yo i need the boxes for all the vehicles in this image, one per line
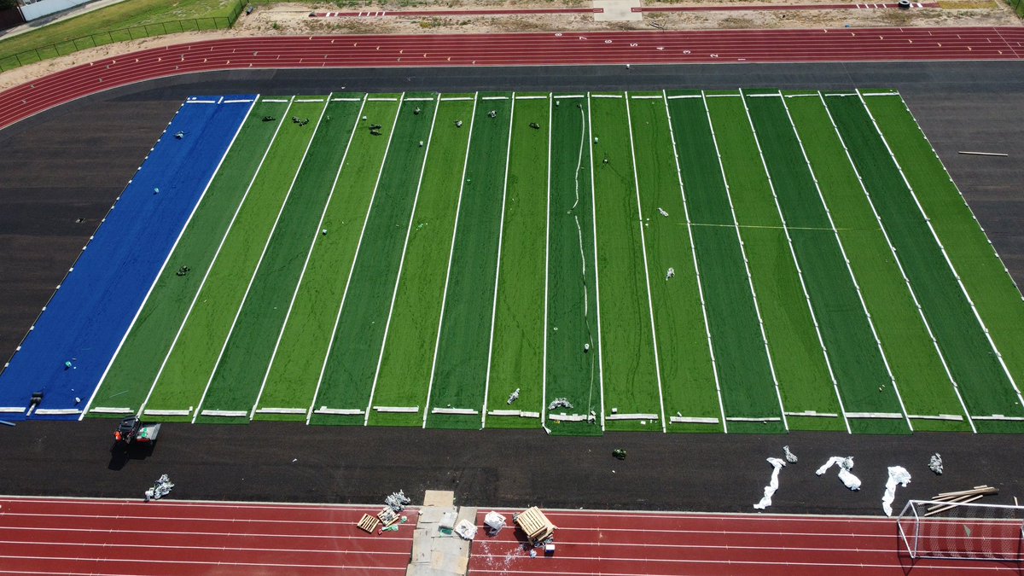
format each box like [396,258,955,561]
[113,415,165,446]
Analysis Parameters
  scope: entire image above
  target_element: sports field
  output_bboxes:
[0,87,1024,436]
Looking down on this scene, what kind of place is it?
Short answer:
sports ground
